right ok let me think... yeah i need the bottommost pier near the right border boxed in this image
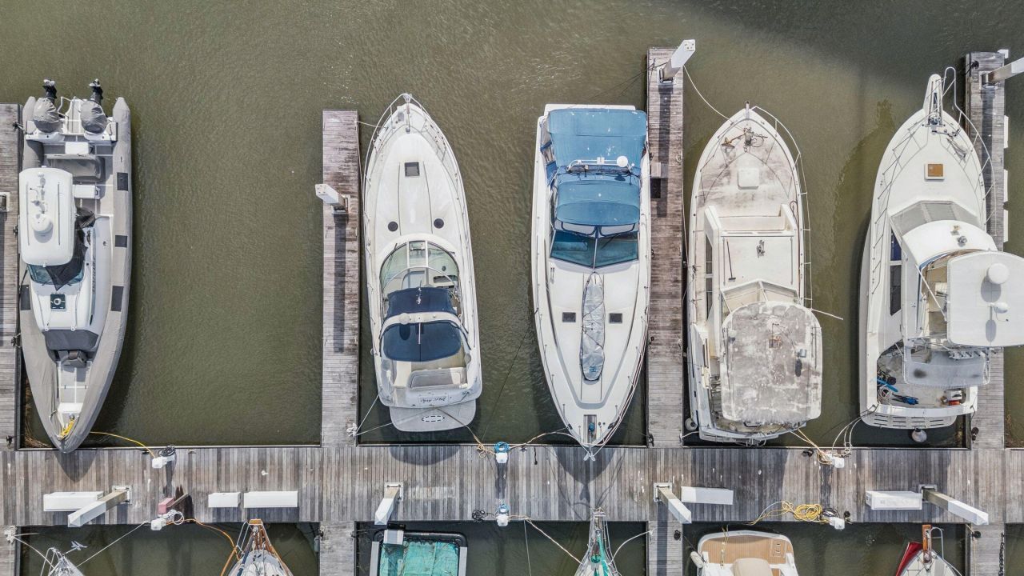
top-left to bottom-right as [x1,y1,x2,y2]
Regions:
[960,523,1004,576]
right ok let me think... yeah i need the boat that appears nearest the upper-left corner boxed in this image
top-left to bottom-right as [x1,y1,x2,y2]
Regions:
[17,79,133,450]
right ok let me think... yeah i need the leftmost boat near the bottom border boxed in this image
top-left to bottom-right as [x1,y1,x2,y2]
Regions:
[40,540,96,576]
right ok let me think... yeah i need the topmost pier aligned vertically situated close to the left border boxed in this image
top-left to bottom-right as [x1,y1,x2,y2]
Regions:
[0,102,26,448]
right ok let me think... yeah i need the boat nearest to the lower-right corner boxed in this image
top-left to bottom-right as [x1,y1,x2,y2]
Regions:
[888,524,961,576]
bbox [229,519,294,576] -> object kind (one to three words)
boat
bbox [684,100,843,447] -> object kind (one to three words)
boat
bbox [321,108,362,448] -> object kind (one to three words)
pier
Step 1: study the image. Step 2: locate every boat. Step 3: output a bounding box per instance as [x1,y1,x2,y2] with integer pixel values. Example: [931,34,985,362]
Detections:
[684,100,843,447]
[693,528,798,576]
[17,79,133,450]
[40,540,96,576]
[229,519,294,576]
[888,524,961,576]
[531,105,652,461]
[855,67,1024,429]
[576,508,621,576]
[363,89,482,432]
